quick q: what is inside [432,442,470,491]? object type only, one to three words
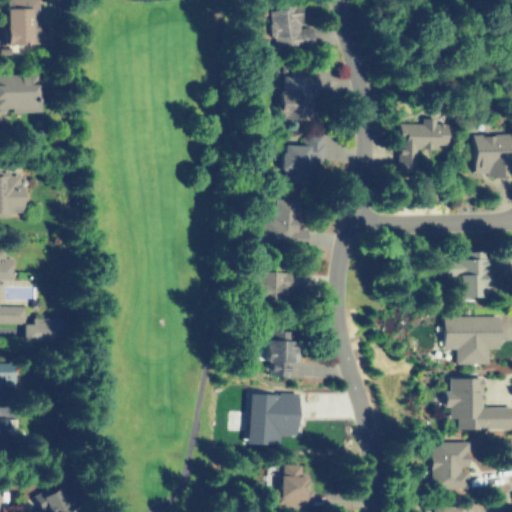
house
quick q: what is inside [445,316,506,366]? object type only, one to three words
house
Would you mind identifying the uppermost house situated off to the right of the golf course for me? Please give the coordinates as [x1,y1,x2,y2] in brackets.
[271,10,316,45]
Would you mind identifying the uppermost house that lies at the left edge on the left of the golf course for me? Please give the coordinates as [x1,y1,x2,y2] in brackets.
[10,0,42,45]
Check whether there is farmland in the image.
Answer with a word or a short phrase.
No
